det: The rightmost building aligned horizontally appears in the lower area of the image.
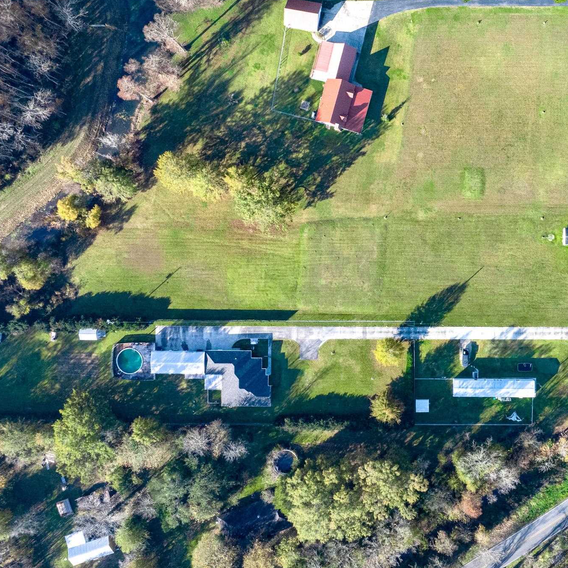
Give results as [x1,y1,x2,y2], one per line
[453,372,536,401]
